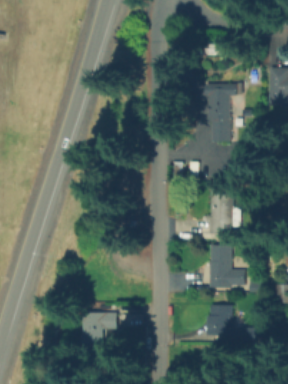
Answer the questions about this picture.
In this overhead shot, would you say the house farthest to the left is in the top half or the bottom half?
bottom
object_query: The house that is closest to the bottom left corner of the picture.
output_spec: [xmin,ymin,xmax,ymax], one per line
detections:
[83,312,118,340]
